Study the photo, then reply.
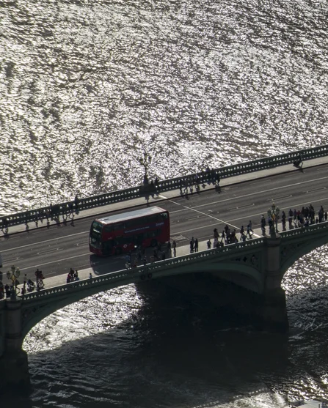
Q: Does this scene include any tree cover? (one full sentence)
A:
No, there's no tree cover in this view.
